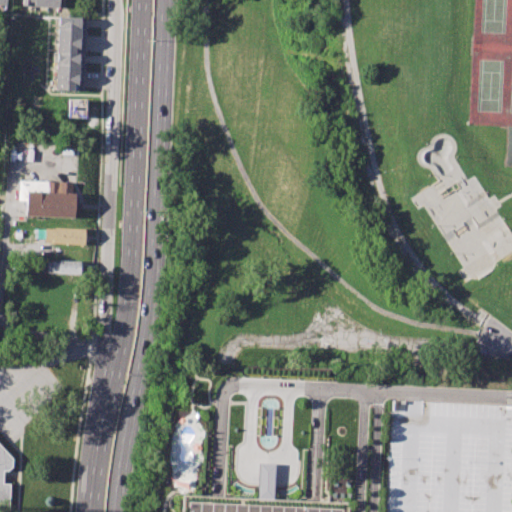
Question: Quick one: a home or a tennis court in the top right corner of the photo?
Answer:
tennis court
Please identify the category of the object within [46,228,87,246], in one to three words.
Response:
house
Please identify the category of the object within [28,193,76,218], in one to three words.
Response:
house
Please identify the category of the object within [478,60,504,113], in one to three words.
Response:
tennis court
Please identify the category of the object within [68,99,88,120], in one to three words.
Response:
building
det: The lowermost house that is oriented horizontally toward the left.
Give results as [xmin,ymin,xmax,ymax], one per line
[49,260,82,276]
